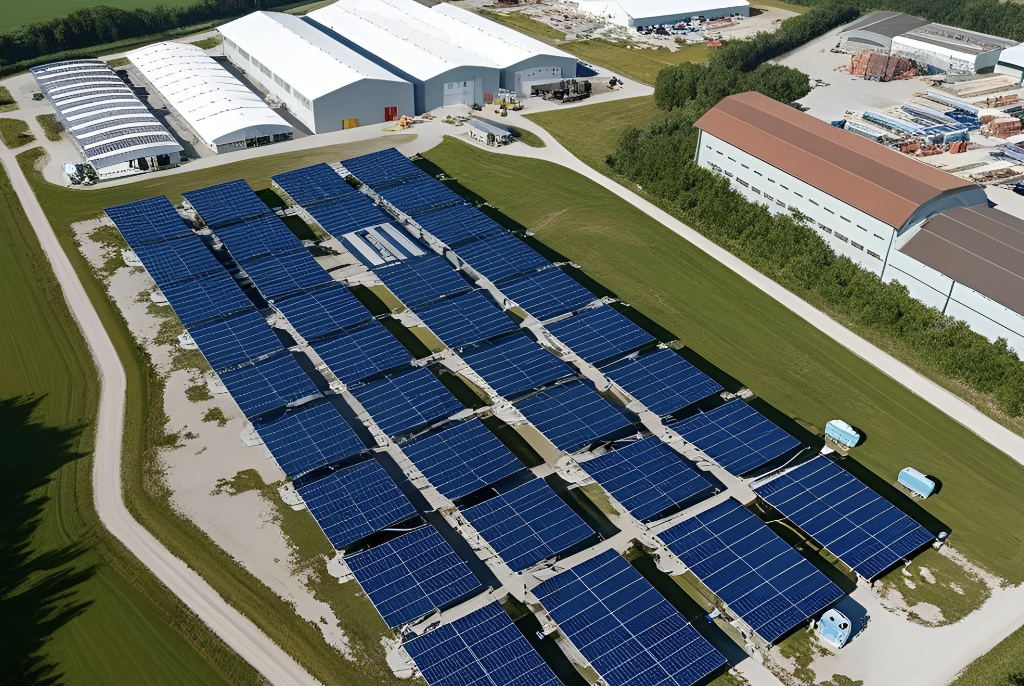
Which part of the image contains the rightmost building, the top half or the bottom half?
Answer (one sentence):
Seen from above, the rightmost building lies in the top half of the view.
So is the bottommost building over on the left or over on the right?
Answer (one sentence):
The bottommost building appears in the right half of the scene.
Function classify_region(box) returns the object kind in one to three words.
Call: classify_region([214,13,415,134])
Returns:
building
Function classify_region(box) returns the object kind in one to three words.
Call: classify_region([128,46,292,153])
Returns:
shed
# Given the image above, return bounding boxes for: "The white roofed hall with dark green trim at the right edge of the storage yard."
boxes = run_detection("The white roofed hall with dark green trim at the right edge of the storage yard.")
[996,38,1024,83]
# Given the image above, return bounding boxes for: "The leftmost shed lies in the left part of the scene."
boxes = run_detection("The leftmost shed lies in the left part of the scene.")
[19,59,185,178]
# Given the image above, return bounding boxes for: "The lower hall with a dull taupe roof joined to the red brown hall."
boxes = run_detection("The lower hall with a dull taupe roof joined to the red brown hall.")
[881,202,1024,351]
